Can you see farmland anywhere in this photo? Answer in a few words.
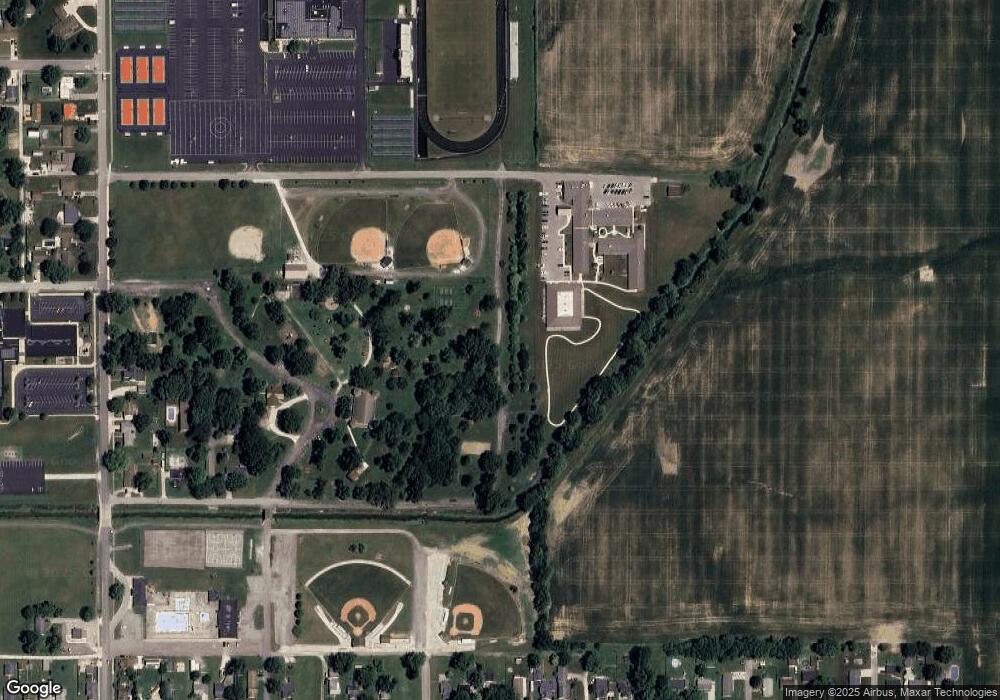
Yes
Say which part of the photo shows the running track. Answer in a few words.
top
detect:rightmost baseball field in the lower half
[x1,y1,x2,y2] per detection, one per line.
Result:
[446,603,483,640]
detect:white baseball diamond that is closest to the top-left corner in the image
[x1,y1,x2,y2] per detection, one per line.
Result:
[229,226,266,264]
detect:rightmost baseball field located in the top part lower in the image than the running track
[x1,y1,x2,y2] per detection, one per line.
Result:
[427,228,465,268]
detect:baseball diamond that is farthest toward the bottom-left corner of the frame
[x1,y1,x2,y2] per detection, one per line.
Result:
[307,562,402,639]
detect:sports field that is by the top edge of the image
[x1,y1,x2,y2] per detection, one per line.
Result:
[428,0,496,140]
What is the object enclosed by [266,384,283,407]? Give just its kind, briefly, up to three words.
house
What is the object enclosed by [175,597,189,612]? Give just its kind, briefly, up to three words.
swimming pool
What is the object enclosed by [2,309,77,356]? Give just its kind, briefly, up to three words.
building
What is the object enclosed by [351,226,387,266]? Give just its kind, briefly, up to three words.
baseball field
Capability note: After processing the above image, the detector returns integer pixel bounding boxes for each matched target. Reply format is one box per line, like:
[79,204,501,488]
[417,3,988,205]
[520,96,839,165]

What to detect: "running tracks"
[415,0,509,158]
